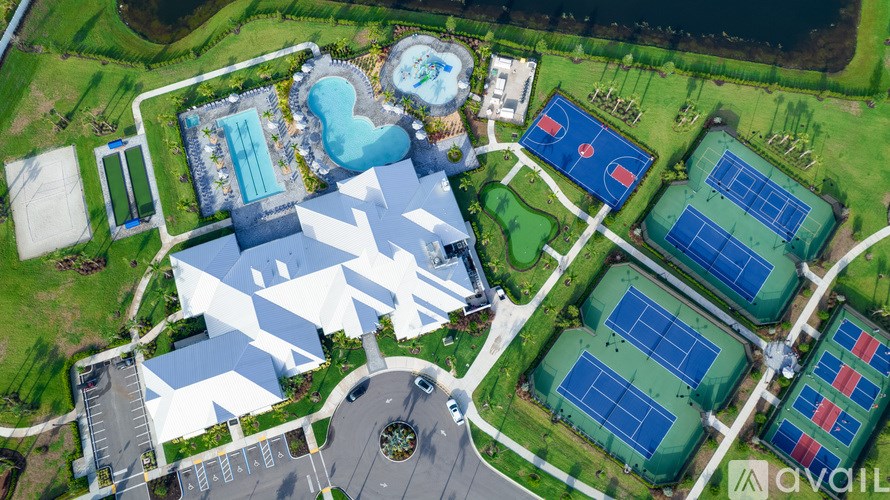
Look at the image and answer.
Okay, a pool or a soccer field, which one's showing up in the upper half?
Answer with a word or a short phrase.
pool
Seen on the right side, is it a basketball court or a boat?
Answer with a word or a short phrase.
basketball court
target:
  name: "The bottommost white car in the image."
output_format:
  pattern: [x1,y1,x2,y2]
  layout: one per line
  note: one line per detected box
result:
[447,398,464,425]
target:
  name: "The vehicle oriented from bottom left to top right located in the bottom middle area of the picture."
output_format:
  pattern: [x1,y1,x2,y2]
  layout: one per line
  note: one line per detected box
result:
[346,383,368,403]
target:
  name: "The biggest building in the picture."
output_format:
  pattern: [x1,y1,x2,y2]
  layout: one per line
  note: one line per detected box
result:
[142,159,494,443]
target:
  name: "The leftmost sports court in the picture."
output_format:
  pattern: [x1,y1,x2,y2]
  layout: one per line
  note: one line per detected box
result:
[5,145,92,260]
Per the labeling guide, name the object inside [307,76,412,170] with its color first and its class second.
blue swimming pool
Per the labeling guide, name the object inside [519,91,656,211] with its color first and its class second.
blue basketball court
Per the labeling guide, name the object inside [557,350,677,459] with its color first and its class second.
blue tennis court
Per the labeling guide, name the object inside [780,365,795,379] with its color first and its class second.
white umbrella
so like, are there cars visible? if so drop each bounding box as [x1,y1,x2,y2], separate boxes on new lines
[413,377,435,395]
[447,398,464,425]
[346,383,368,403]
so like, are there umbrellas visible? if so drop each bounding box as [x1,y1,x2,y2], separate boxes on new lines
[296,122,307,132]
[393,105,403,116]
[780,365,795,379]
[293,112,303,122]
[382,103,393,112]
[302,63,313,74]
[412,121,422,130]
[416,131,426,141]
[458,81,468,91]
[267,121,278,131]
[298,146,309,157]
[229,94,240,104]
[311,160,322,171]
[217,170,229,180]
[204,144,216,154]
[319,166,329,177]
[294,73,304,83]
